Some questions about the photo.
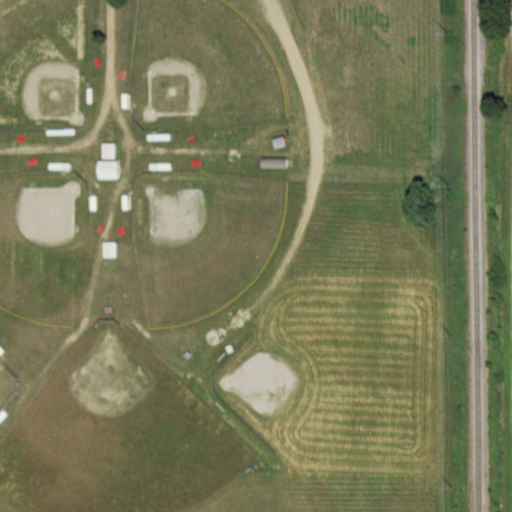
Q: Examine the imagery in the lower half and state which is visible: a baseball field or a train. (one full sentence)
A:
The feature located in the lower half is a baseball field.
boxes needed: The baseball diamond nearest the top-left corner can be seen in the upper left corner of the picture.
[0,0,87,132]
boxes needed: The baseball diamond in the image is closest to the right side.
[214,341,300,425]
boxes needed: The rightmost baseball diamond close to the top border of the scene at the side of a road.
[134,0,287,130]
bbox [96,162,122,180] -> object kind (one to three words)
building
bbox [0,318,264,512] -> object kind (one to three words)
baseball field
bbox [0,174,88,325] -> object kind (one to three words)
baseball field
